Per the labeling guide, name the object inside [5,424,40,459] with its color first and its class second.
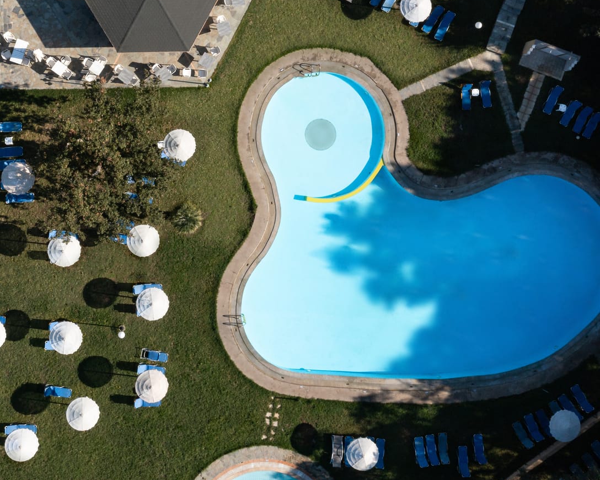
white umbrella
